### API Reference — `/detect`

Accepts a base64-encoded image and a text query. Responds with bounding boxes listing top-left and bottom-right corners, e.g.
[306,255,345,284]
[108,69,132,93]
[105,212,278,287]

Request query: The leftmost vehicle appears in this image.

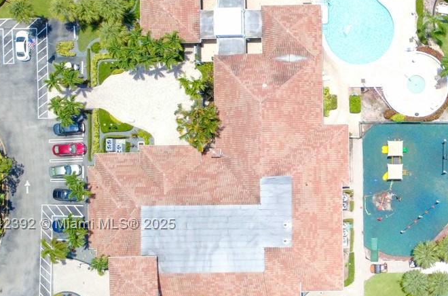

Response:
[14,31,32,62]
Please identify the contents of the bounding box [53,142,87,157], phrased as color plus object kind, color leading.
red car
